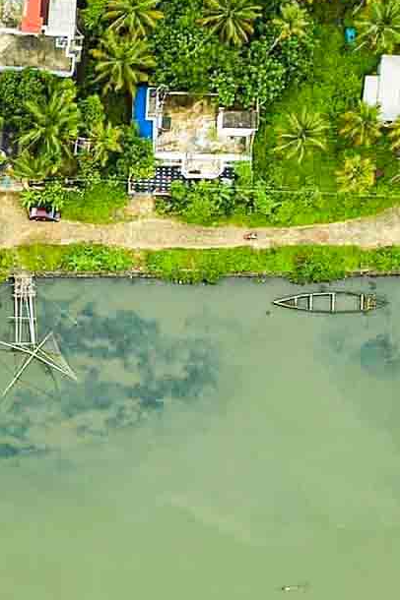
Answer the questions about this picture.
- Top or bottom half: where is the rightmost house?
top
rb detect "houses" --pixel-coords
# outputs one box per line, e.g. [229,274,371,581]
[0,0,85,79]
[145,84,260,184]
[356,54,400,125]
